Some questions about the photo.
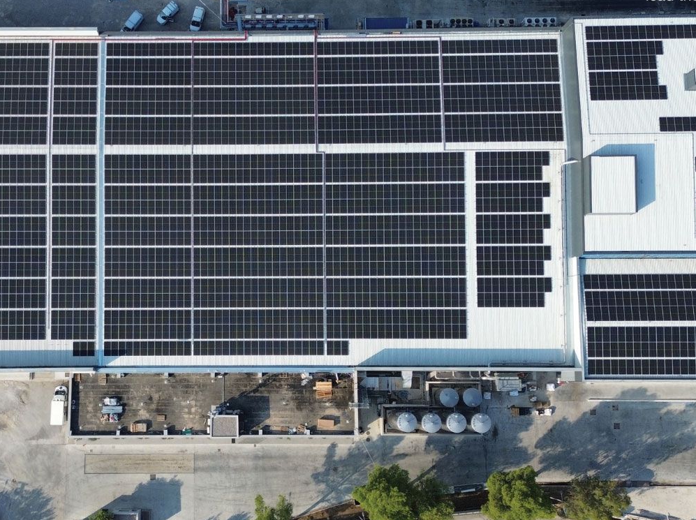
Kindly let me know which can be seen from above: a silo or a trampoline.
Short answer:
silo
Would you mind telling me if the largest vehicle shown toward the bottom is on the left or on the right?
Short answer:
left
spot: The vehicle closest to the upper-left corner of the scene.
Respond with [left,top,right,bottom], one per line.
[120,8,142,32]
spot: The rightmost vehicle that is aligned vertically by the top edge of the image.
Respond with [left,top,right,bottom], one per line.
[190,4,205,32]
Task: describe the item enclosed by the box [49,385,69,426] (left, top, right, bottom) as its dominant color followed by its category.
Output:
white vehicle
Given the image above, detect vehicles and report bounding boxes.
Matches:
[49,385,69,426]
[157,0,178,27]
[190,4,205,32]
[120,8,142,32]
